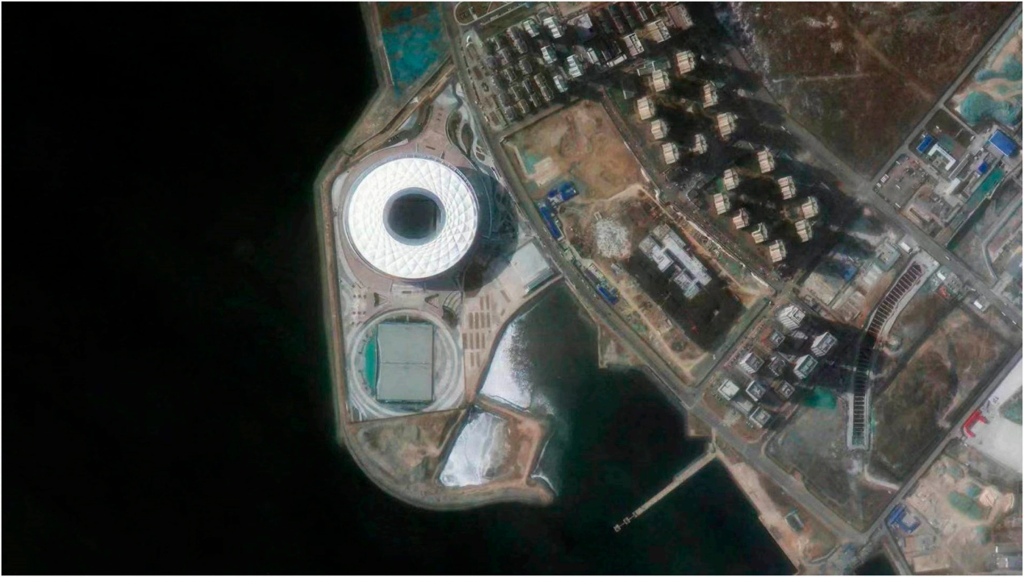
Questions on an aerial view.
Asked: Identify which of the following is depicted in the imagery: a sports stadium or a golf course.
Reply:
sports stadium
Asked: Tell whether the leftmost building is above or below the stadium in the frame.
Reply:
below it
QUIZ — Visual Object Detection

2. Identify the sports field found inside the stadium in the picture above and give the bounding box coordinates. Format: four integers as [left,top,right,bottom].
[387,201,433,238]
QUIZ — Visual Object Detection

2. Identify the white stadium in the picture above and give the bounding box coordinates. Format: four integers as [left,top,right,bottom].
[343,153,479,284]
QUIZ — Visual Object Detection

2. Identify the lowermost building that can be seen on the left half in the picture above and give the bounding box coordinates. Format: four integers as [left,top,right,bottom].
[377,322,434,403]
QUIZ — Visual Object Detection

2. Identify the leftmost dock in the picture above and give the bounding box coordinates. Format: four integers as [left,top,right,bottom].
[635,443,719,516]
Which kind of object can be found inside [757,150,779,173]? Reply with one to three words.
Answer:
building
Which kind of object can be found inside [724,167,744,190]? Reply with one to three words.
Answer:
building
